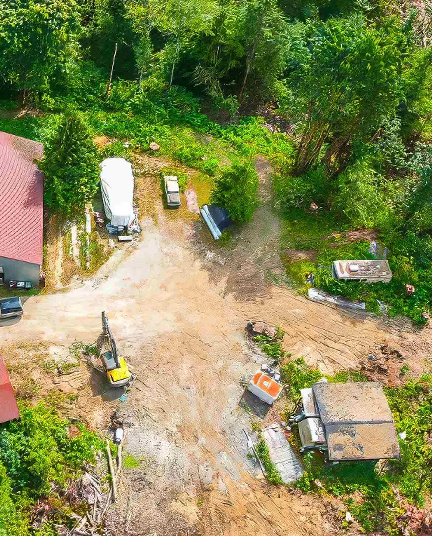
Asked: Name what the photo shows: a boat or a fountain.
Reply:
boat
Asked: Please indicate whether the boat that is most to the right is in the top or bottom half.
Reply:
bottom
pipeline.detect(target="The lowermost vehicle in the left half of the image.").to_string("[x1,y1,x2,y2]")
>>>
[99,309,151,414]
